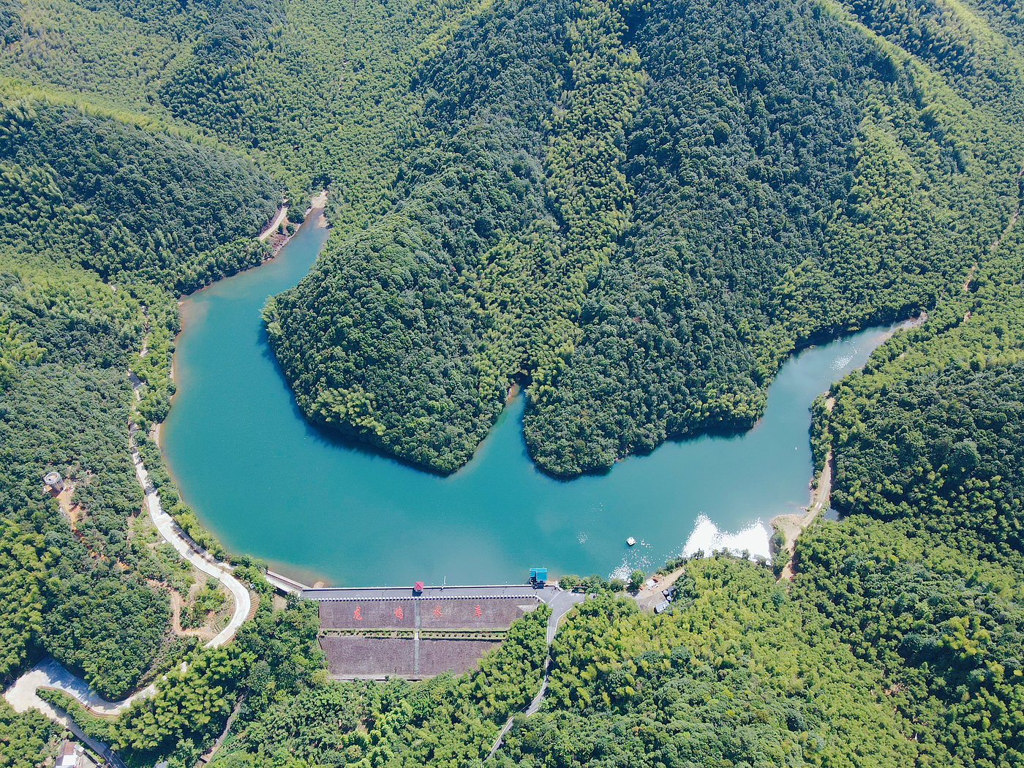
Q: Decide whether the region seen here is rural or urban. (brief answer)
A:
rural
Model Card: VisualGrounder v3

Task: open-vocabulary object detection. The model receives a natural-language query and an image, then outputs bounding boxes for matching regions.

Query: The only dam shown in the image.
[297,579,562,683]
